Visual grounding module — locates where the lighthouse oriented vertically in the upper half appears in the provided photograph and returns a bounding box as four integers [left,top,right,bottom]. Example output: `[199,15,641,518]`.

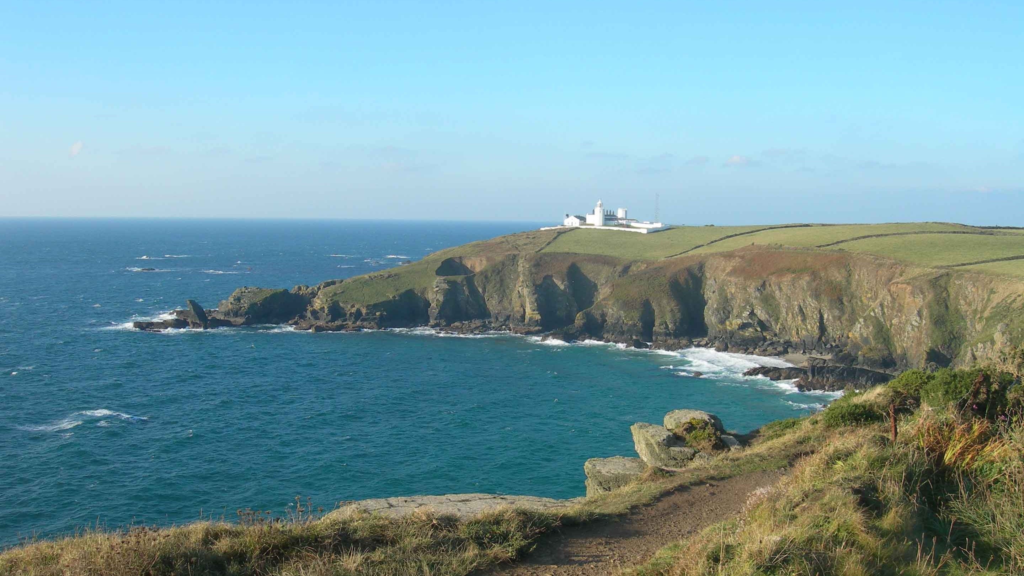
[596,199,608,226]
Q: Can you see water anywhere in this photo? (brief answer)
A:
Yes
